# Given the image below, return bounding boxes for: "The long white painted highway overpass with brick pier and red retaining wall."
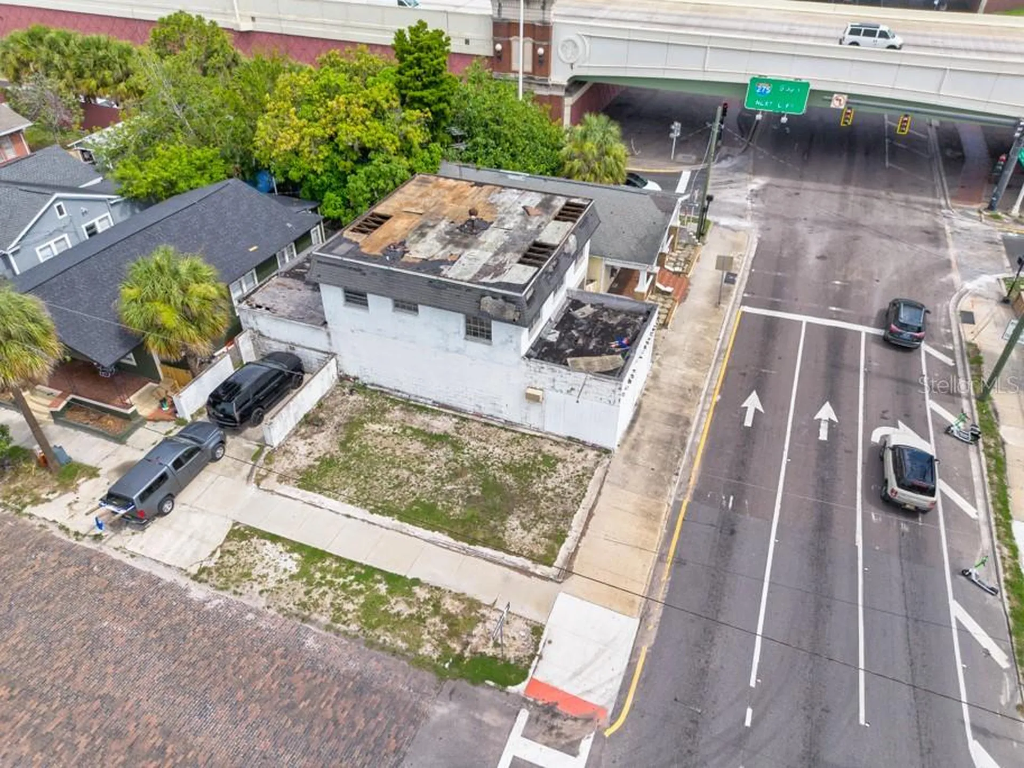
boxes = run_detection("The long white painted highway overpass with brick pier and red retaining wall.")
[0,0,1024,126]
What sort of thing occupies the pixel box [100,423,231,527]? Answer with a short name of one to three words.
truck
